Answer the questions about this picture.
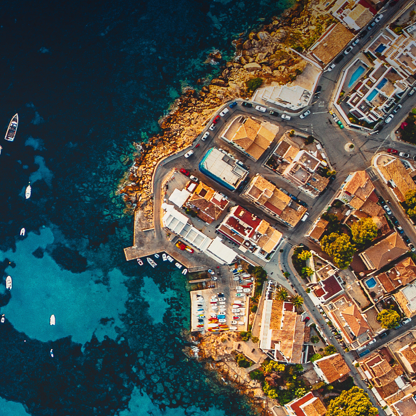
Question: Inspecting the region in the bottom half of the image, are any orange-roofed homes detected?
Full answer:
Yes, the scene does show an orange-roofed home in the bottom half of the image.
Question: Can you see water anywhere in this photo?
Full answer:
Yes, the picture does contain water.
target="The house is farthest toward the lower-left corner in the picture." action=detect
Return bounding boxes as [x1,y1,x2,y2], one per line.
[160,209,213,253]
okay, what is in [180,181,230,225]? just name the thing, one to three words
house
